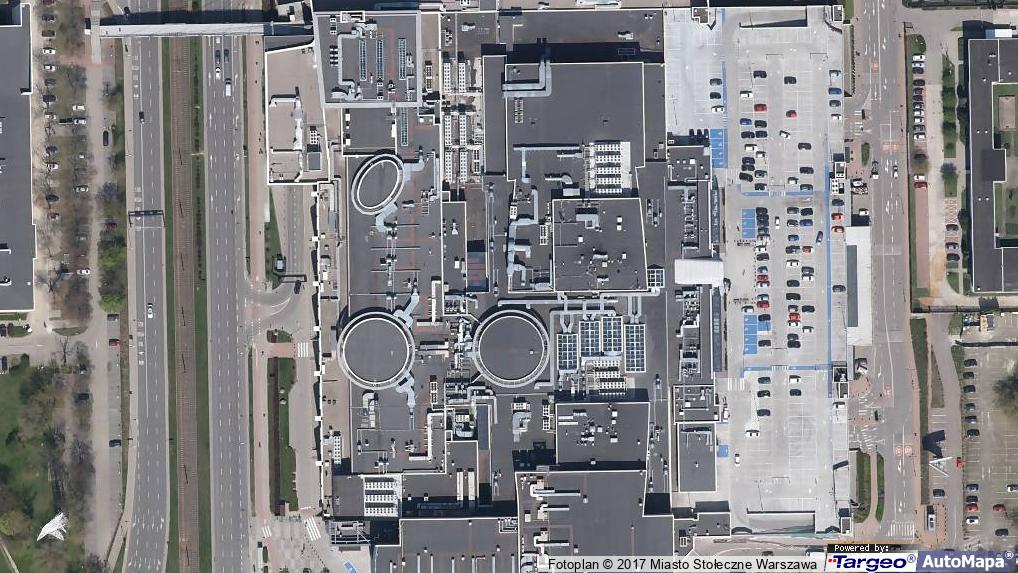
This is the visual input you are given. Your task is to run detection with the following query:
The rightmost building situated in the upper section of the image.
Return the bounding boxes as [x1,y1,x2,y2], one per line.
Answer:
[967,29,1018,292]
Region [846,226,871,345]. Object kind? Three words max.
building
